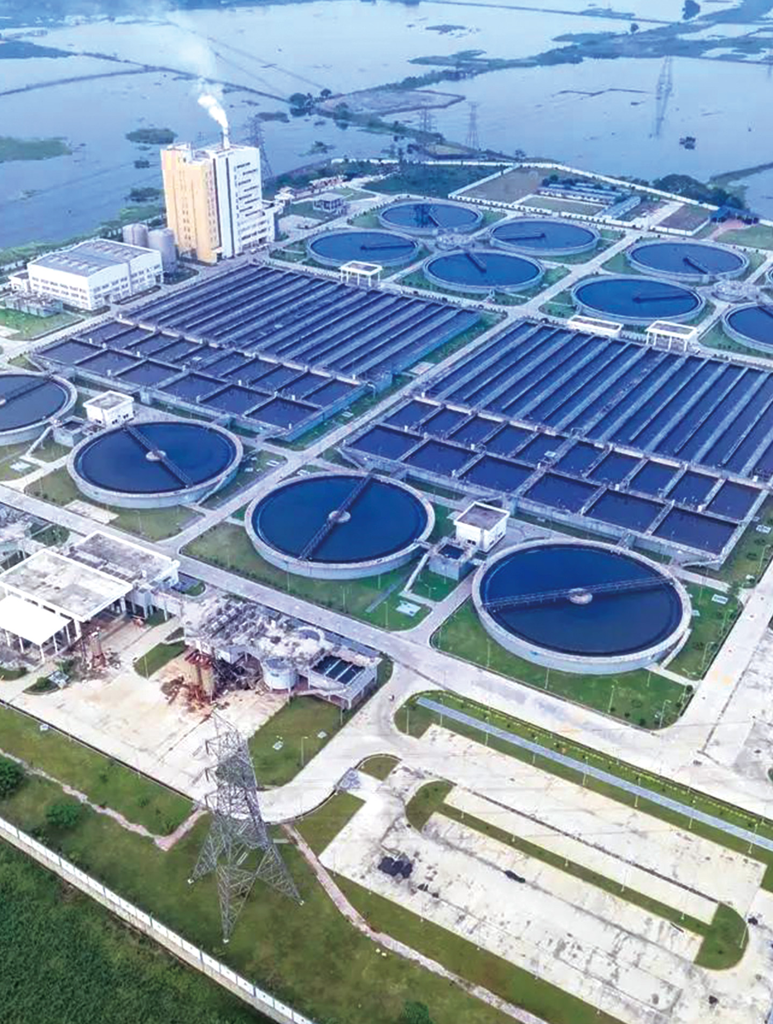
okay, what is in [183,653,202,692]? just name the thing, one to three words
silo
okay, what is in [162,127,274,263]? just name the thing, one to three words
building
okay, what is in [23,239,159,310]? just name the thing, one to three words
building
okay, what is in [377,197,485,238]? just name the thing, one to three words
storage tank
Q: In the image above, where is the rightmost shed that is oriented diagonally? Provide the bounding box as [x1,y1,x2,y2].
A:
[603,194,644,224]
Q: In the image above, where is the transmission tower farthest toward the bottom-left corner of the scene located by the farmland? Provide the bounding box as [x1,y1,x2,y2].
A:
[184,710,306,943]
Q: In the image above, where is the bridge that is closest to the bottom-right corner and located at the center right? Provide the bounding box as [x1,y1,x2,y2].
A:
[482,571,681,615]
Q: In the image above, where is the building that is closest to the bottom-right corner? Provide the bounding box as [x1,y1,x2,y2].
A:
[453,500,507,556]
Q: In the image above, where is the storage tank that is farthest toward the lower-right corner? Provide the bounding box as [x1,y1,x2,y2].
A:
[476,535,693,675]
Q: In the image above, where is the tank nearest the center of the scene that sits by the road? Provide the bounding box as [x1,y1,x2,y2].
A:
[245,466,437,580]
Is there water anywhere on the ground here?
Yes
